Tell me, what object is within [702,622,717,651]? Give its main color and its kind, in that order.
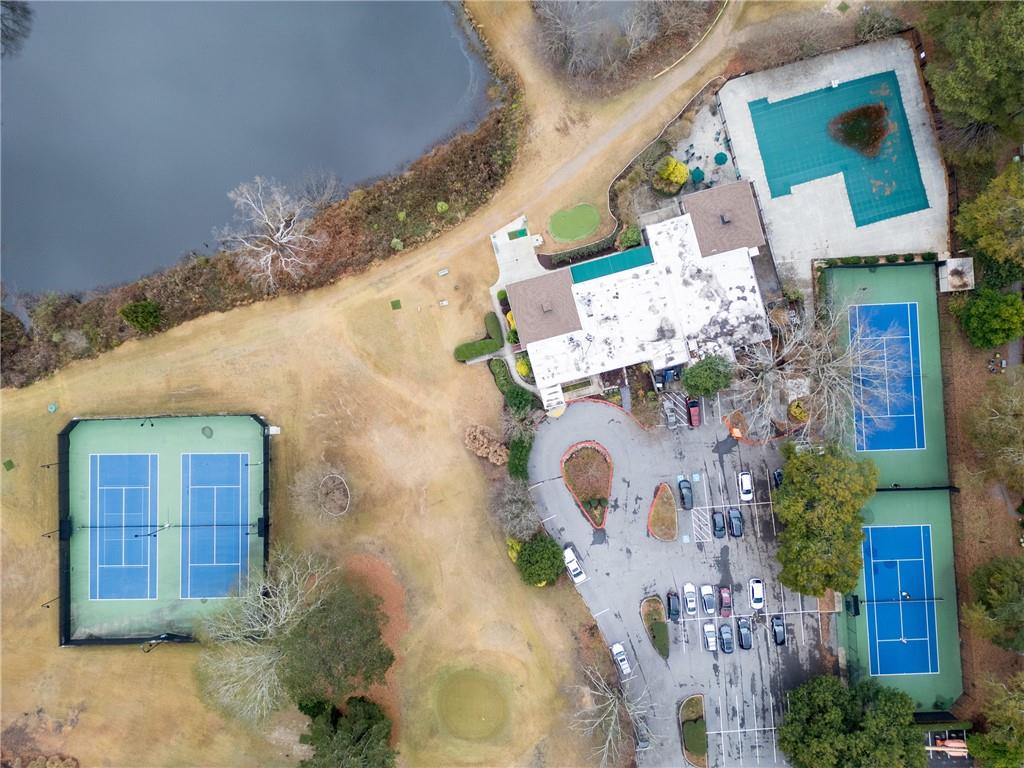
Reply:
white car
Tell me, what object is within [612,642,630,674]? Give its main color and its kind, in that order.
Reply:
white car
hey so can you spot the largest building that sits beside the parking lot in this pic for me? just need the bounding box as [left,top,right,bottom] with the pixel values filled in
[506,180,772,390]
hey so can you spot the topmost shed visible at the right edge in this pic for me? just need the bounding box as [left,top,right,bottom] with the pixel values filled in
[931,258,974,293]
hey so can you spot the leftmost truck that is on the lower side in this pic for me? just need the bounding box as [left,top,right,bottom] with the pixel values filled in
[563,547,586,583]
